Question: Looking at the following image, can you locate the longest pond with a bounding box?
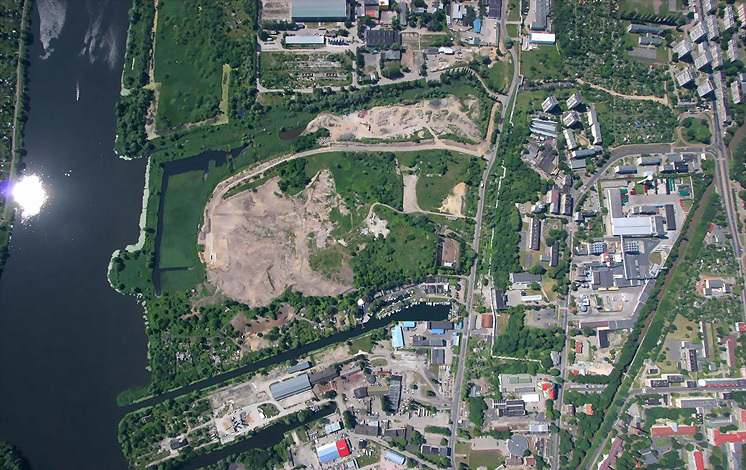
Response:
[152,146,245,295]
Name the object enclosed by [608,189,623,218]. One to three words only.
building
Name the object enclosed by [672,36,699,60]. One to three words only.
building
